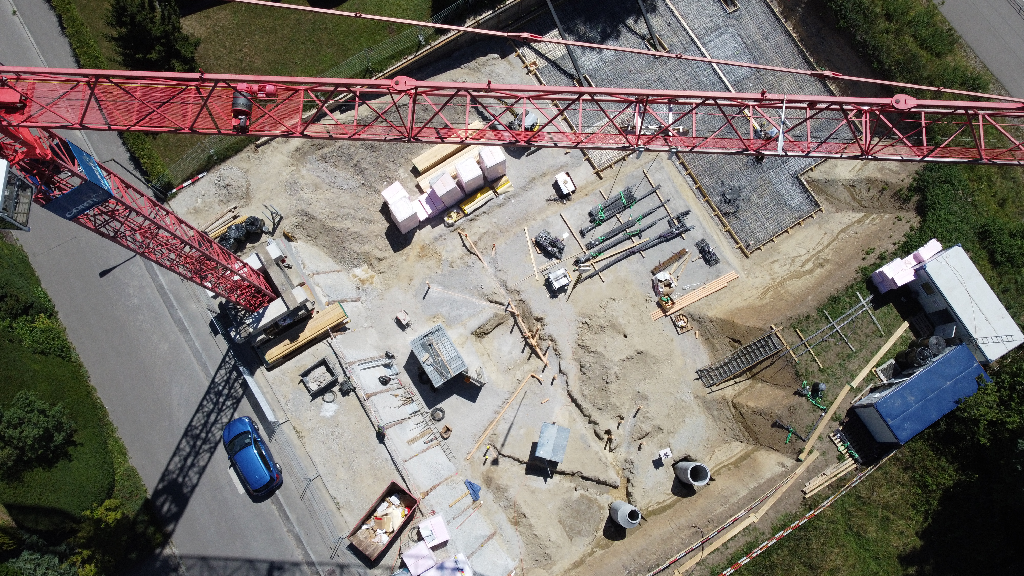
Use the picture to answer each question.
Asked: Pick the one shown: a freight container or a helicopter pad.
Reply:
freight container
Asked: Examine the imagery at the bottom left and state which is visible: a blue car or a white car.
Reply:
blue car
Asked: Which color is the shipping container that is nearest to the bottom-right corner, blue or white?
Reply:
blue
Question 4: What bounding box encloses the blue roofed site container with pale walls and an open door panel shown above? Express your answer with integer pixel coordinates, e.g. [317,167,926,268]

[851,342,995,445]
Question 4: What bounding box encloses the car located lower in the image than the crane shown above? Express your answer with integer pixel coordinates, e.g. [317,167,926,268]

[226,417,284,499]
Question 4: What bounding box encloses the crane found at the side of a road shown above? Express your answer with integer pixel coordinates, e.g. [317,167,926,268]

[0,0,1024,311]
